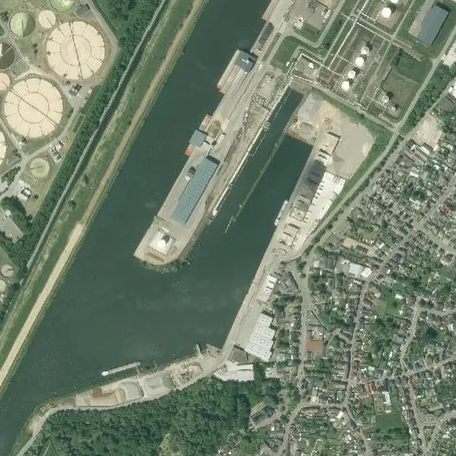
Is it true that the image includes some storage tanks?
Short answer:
Yes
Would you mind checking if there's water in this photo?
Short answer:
Yes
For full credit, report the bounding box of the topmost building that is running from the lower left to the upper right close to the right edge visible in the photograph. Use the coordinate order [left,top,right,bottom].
[416,4,450,45]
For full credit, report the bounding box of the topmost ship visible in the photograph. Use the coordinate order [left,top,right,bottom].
[263,0,276,20]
